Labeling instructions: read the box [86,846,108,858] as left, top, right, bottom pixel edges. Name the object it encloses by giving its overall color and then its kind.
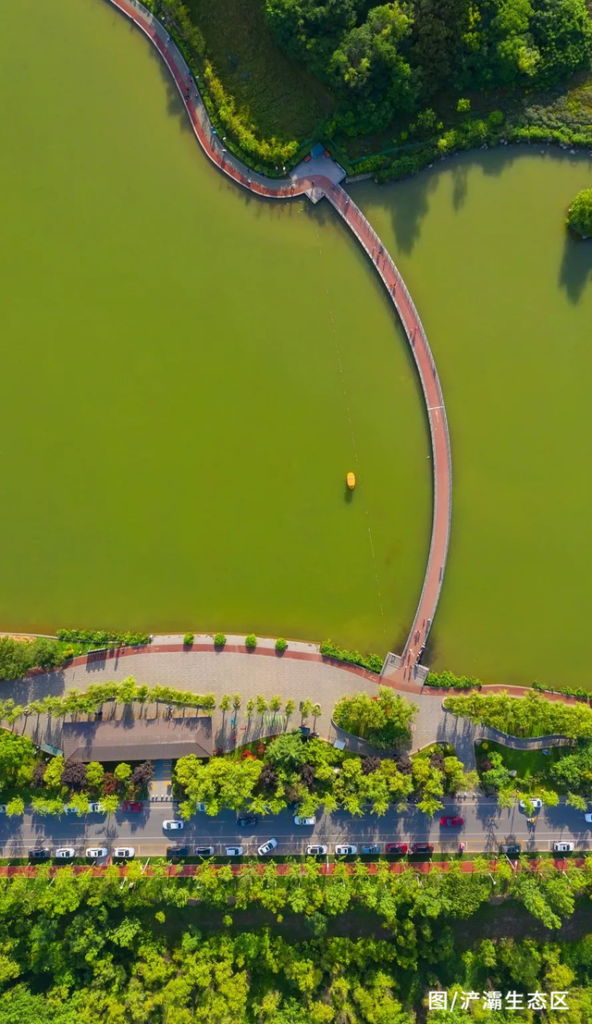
white vehicle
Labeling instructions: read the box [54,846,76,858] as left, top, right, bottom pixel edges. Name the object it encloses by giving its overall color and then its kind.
white vehicle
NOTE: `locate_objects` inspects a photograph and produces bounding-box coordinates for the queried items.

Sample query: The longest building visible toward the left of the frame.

[63,715,213,762]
